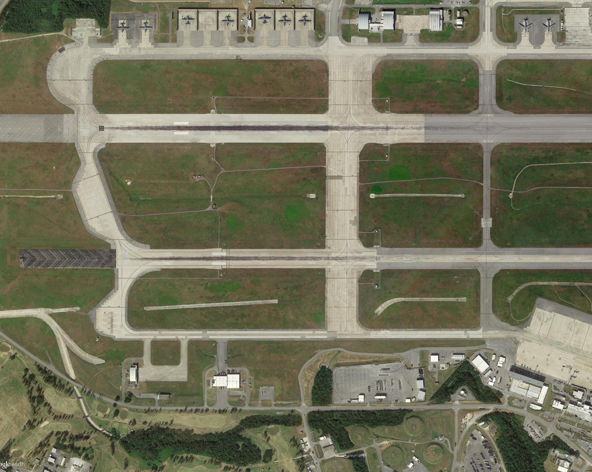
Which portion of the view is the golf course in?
bottom left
